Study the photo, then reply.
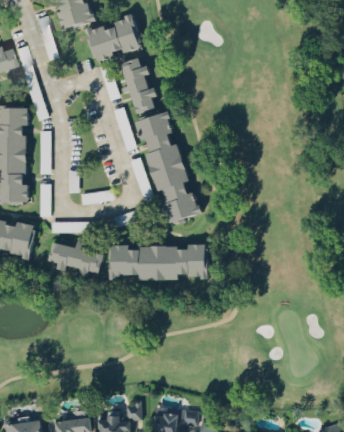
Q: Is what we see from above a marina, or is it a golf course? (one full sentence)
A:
This image shows a golf course.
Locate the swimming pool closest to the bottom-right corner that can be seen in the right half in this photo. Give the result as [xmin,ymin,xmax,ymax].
[296,418,322,432]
